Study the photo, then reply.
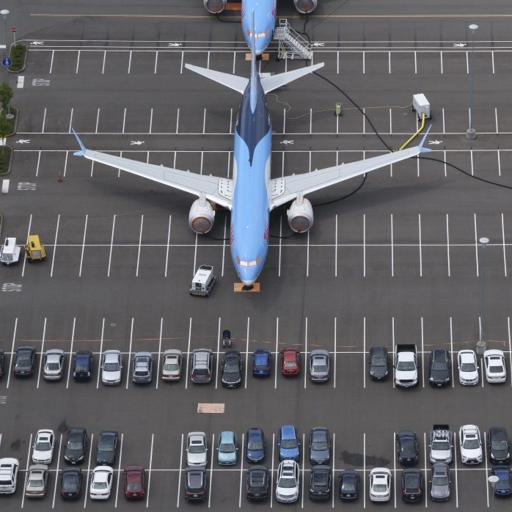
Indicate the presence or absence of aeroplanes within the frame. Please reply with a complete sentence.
Yes, there's an aeroplane here.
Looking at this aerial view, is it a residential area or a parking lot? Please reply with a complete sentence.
The picture captures a parking lot.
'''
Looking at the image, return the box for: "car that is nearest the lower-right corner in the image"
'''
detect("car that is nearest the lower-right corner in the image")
[490,463,512,495]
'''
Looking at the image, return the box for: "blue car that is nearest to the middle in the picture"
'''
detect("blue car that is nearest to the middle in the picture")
[251,349,274,376]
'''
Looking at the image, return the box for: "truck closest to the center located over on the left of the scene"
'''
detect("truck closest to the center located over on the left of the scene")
[188,260,217,291]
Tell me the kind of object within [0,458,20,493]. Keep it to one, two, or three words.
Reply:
car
